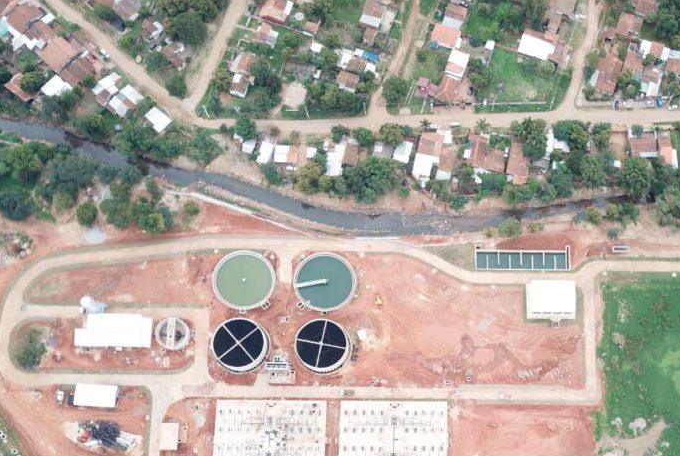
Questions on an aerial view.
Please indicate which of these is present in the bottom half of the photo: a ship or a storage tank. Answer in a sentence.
The feature located in the bottom half of the photo is a storage tank.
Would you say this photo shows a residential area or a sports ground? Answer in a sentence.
It's a residential area.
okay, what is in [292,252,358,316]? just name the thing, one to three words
storage tank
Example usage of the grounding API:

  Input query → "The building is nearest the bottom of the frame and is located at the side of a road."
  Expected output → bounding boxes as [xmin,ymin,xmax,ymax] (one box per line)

[159,423,187,450]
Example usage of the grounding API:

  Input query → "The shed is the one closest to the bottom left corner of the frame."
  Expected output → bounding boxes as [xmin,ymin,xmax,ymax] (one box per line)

[67,383,123,408]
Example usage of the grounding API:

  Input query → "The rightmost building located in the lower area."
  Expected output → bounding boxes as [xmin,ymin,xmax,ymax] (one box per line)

[522,279,582,328]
